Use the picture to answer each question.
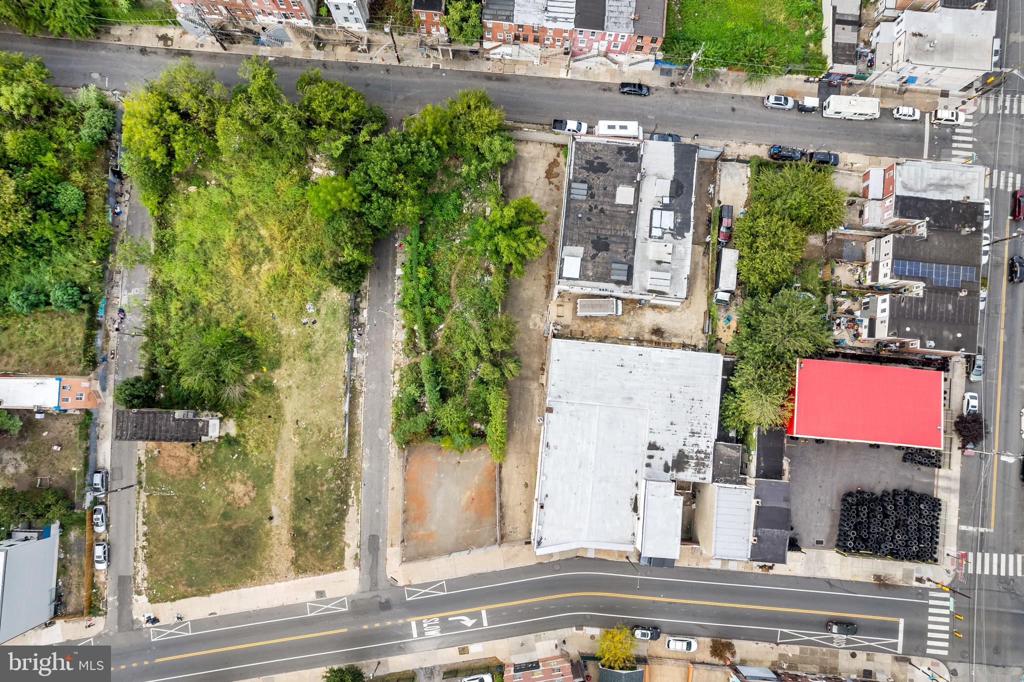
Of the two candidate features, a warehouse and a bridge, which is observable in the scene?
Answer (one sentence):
The one in the frame is a warehouse.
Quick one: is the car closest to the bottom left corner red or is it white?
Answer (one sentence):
The car closest to the bottom left corner is white.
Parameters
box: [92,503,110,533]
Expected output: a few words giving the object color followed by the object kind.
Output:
gray car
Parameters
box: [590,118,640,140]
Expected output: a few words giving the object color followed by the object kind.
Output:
white truck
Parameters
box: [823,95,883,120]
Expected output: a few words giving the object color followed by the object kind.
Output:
white camper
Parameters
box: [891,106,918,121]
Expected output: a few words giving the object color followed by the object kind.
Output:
white car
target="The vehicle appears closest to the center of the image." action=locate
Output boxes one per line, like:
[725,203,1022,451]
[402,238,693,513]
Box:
[573,298,619,316]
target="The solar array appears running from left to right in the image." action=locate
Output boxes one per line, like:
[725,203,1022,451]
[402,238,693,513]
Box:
[893,260,976,287]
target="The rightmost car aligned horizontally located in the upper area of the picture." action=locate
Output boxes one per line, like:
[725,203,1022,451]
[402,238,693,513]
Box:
[929,110,962,126]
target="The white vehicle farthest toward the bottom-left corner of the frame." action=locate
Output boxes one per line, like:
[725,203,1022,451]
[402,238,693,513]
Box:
[92,540,112,570]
